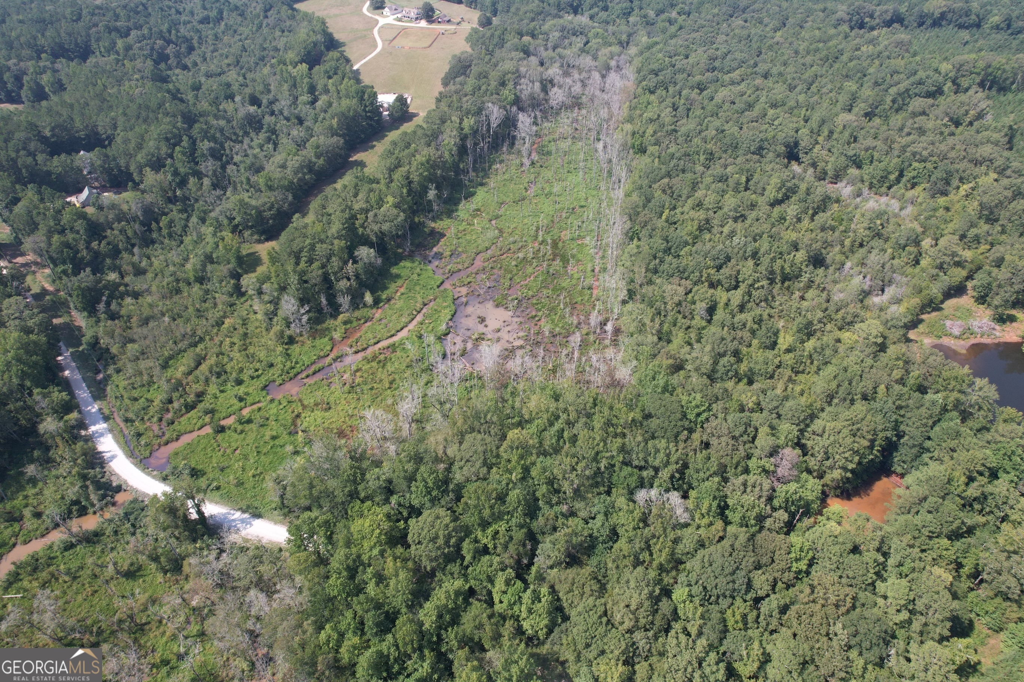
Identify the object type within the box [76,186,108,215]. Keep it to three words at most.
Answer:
house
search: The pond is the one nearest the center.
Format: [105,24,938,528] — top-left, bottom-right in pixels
[437,294,529,372]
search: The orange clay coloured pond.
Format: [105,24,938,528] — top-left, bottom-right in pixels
[814,453,905,522]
